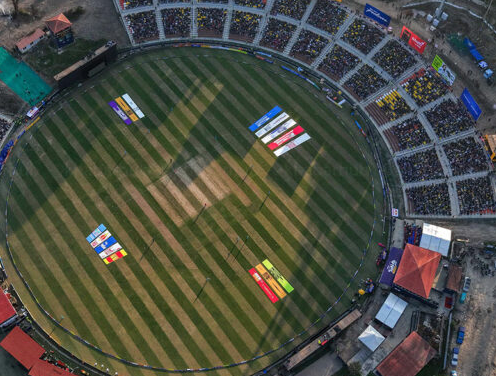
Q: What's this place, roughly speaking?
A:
sports ground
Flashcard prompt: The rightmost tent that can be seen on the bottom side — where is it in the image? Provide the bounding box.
[420,224,452,262]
